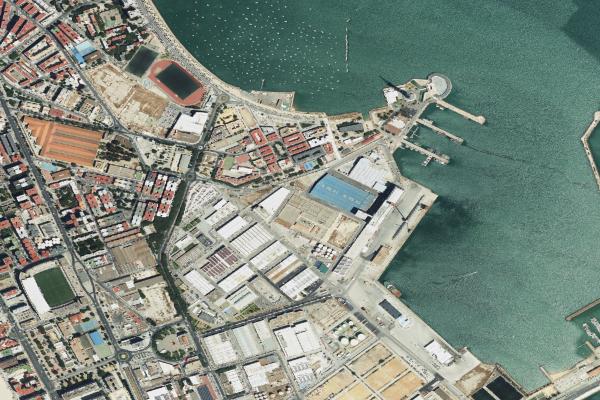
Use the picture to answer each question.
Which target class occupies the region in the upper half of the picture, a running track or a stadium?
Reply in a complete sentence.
The feature located in the upper half of the picture is a running track.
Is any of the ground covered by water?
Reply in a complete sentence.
Yes, the picture does contain water.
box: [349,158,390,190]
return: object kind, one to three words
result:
building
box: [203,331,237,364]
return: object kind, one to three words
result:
building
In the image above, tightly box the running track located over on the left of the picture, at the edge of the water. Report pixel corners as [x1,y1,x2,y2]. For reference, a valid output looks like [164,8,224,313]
[151,56,206,107]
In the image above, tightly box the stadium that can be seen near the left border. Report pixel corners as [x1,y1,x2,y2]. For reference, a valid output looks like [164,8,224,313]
[20,261,79,315]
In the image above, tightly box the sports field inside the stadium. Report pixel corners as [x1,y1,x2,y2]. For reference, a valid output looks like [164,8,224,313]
[34,268,75,307]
